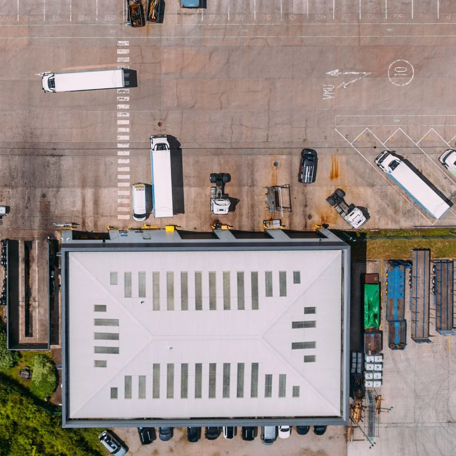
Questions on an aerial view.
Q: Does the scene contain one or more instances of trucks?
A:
Yes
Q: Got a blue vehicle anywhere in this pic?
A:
Yes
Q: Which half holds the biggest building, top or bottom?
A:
bottom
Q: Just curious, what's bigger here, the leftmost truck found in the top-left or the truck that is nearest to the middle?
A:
the leftmost truck found in the top-left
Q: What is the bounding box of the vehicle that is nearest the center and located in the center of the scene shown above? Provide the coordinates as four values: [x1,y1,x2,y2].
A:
[207,171,231,215]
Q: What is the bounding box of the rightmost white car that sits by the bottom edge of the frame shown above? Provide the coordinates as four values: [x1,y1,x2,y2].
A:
[277,427,293,439]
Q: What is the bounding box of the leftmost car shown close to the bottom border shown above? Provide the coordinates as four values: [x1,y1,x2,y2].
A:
[99,428,127,456]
